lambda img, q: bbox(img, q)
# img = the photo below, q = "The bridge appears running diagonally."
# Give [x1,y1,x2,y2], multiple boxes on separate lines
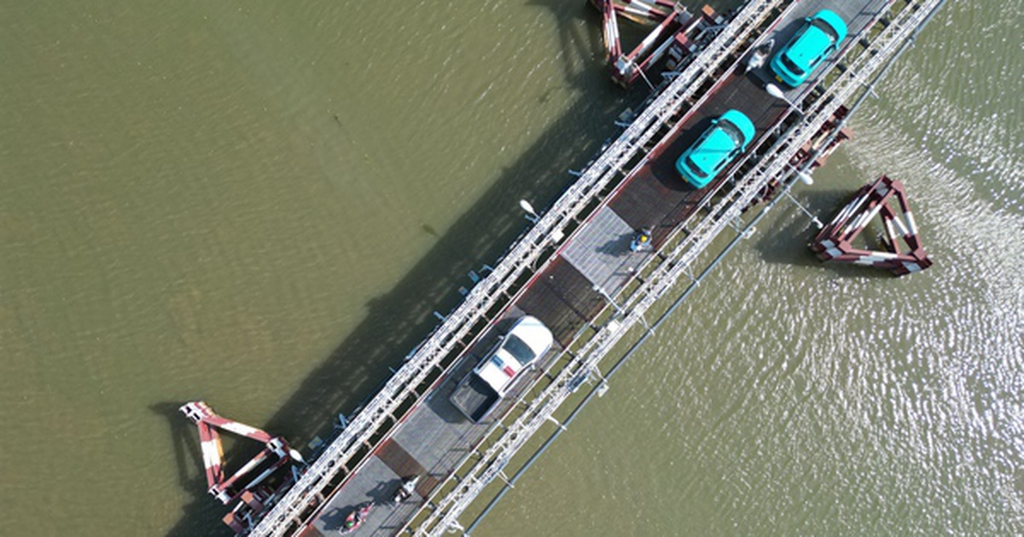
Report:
[247,0,935,537]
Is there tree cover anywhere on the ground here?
No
